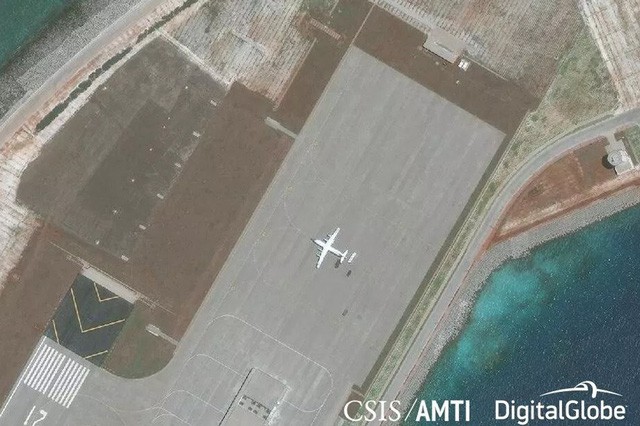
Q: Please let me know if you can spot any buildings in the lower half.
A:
No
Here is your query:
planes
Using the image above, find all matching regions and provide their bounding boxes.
[311,227,348,267]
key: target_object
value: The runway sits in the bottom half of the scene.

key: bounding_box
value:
[0,334,103,426]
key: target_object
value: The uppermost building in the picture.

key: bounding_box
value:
[424,27,464,62]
